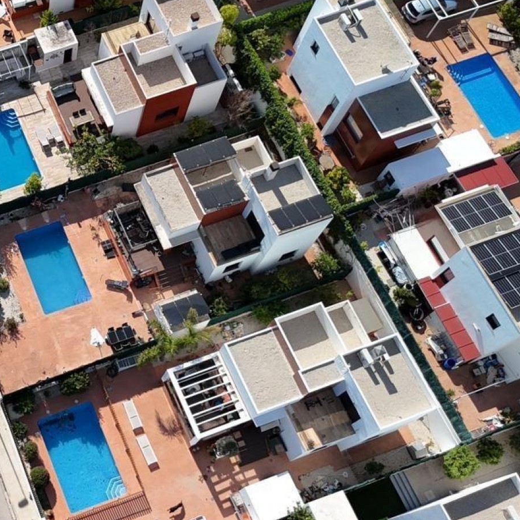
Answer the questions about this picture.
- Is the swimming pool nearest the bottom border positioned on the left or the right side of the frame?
left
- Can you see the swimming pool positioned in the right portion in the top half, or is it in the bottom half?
top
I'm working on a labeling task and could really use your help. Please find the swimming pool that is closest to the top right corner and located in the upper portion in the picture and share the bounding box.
[446,50,520,140]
